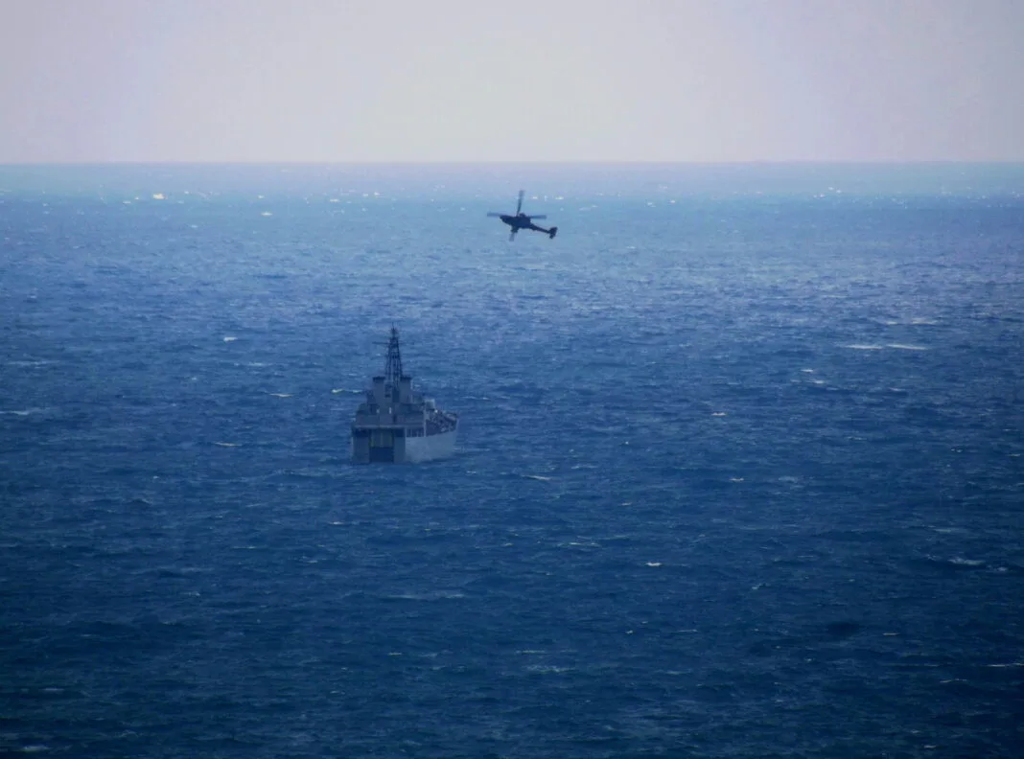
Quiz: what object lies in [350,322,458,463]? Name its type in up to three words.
ship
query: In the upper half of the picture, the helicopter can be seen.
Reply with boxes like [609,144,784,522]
[487,190,558,240]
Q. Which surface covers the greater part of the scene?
water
